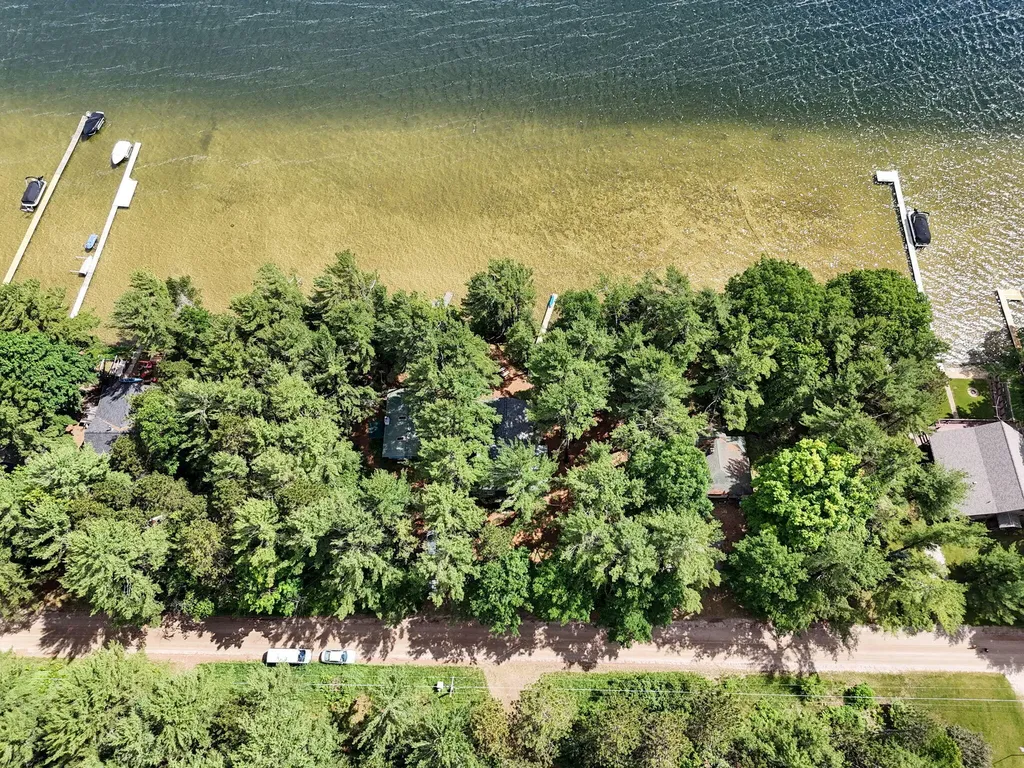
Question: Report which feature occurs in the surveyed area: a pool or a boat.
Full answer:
There is a boat in the scene.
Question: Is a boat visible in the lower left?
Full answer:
No, the scene shows no boat in the lower left.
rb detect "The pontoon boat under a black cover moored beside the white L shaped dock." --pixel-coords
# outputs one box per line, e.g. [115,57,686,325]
[908,206,931,249]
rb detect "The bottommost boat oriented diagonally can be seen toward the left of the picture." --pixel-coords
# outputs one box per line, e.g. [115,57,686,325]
[86,234,99,250]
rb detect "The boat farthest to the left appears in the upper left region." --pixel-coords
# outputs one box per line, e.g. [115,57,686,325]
[21,174,50,211]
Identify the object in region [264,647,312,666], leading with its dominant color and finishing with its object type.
white vehicle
